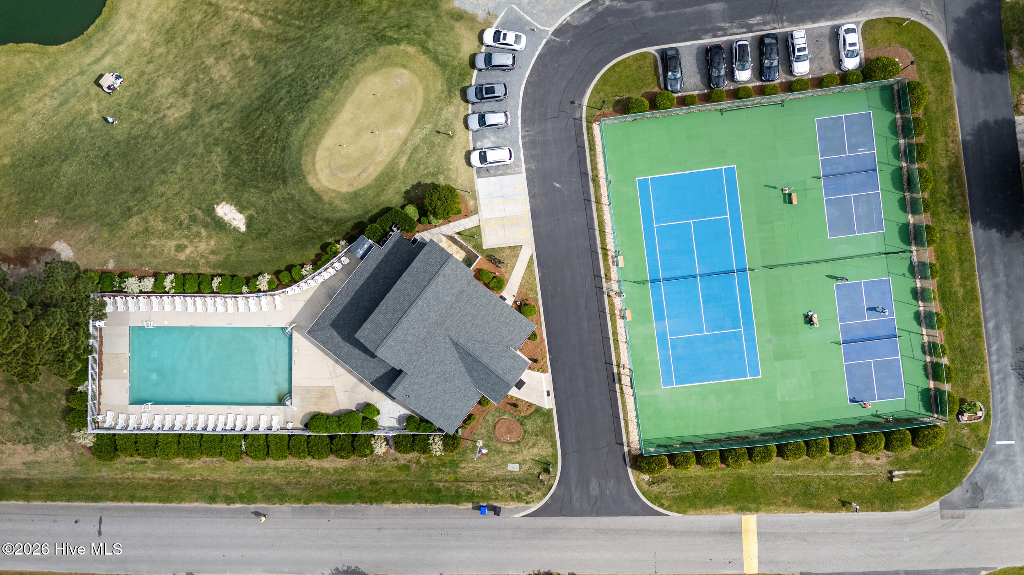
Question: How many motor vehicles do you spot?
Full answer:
Looking from above, you can make out 12 motor vehicles.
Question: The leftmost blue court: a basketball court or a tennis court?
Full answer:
I'd identify the leftmost blue court as a tennis court.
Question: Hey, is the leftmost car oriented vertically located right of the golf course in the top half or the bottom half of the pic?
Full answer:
It is in the top half that the leftmost car oriented vertically located right of the golf course appears.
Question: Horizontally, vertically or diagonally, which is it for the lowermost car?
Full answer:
From this overhead view, the lowermost car appears to run horizontally.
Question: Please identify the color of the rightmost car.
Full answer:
The color of the rightmost car is white.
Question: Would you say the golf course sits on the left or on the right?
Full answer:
It is on the left.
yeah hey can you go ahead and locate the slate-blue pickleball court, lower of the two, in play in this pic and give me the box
[835,278,905,405]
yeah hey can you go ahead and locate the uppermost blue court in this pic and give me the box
[816,111,884,238]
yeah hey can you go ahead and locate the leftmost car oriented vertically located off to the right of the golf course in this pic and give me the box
[662,48,685,92]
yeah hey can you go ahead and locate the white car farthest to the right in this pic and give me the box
[836,25,861,70]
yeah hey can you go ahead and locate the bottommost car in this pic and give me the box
[470,146,513,167]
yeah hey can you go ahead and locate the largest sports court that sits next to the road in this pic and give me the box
[599,86,931,448]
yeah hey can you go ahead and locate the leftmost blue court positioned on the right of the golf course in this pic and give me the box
[637,165,761,388]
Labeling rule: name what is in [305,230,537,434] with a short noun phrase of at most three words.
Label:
building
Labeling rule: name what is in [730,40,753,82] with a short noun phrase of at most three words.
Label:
car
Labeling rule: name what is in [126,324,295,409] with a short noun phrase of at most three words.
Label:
swimming pool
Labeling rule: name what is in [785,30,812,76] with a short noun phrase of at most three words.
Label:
car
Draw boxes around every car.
[483,27,526,51]
[467,110,510,131]
[730,40,753,82]
[836,25,861,70]
[785,30,812,76]
[662,48,685,92]
[705,45,729,88]
[757,34,782,80]
[470,146,513,167]
[474,50,515,72]
[466,82,508,104]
